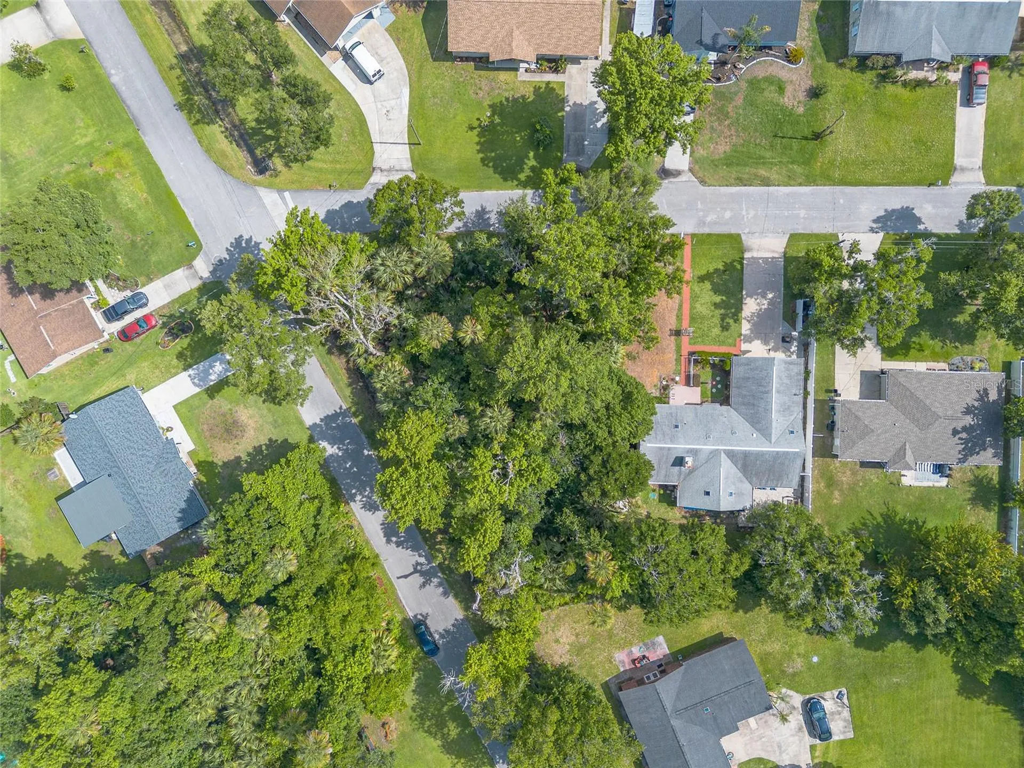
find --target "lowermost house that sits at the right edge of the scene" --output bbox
[831,370,1005,473]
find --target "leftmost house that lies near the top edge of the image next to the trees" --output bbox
[265,0,385,64]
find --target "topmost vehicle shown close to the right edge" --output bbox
[964,61,992,108]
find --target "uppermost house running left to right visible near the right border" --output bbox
[848,0,1020,72]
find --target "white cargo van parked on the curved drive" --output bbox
[344,40,387,90]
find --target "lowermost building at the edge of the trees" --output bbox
[619,636,772,768]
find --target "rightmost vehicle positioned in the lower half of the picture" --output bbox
[802,694,835,744]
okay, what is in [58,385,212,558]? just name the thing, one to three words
house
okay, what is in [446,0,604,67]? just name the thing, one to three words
house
